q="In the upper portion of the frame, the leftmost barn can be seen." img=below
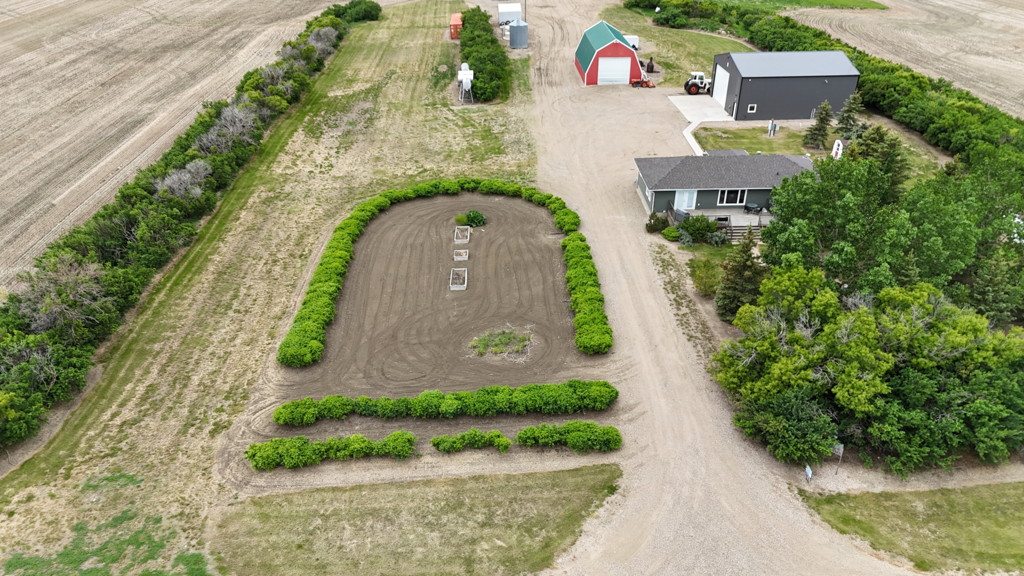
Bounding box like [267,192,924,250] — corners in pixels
[574,20,643,85]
